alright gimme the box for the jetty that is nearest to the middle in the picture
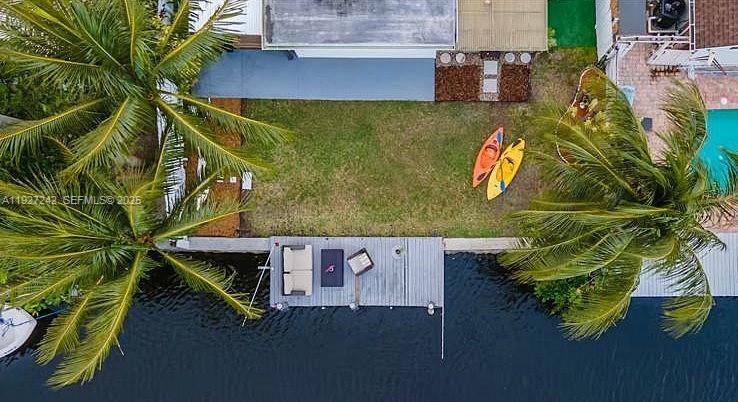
[270,237,443,310]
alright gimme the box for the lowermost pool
[701,97,738,200]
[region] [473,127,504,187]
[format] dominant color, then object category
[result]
orange boat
